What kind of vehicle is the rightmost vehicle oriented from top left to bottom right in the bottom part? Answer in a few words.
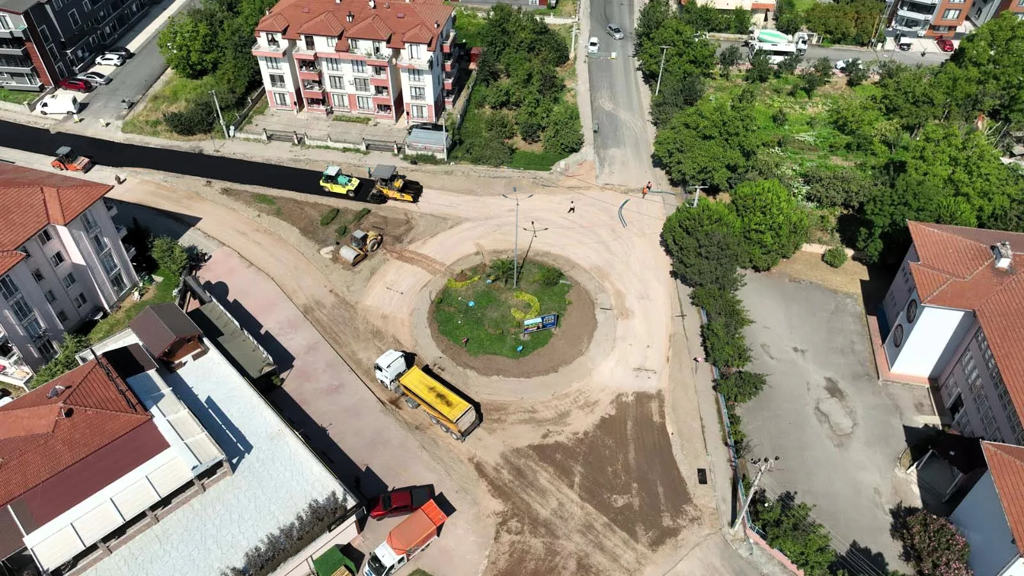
truck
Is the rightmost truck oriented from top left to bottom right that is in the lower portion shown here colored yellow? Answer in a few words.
Yes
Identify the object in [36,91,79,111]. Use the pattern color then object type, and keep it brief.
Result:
white vehicle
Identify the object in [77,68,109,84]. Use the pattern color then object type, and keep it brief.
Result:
gray car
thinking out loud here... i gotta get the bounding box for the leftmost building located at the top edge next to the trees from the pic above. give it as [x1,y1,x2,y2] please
[0,0,193,94]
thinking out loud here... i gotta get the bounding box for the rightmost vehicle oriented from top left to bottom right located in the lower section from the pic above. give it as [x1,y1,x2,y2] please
[366,350,477,435]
